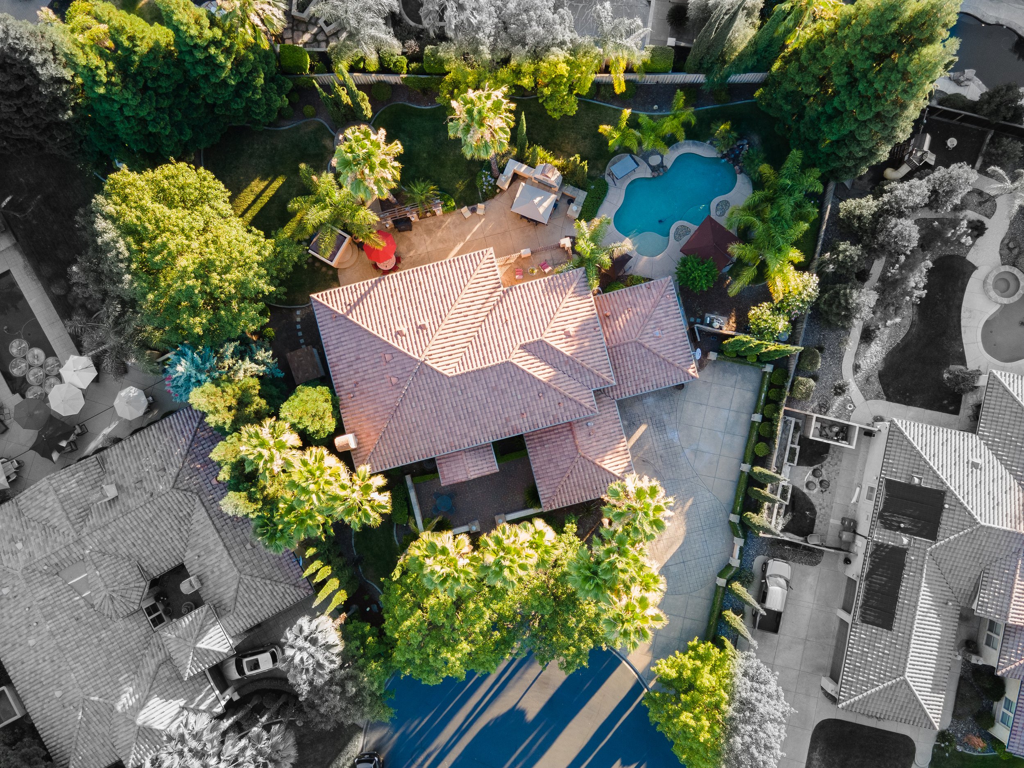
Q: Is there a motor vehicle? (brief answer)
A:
Yes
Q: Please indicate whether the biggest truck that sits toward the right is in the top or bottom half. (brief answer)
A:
bottom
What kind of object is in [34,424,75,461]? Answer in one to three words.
umbrella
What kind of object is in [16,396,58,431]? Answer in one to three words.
umbrella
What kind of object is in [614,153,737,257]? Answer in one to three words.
swimming pool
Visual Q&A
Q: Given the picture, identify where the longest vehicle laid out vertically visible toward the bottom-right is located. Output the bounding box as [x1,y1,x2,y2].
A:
[751,553,793,638]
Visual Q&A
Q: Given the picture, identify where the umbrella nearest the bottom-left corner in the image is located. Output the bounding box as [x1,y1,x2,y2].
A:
[0,461,25,491]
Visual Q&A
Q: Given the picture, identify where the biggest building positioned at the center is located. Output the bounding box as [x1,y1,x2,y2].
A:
[308,246,699,511]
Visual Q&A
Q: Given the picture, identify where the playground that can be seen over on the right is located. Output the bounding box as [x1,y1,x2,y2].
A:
[852,118,987,192]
